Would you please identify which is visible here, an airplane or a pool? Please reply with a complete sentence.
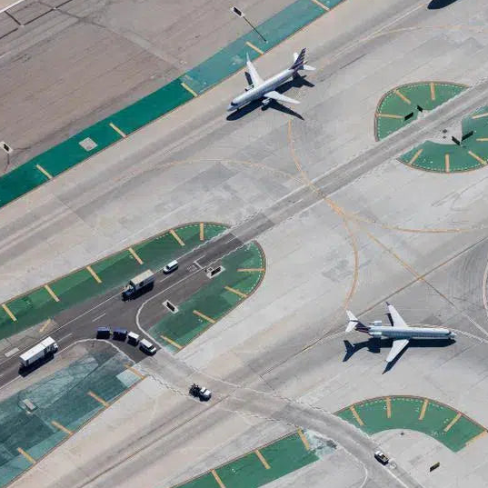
I can see an airplane in this picture.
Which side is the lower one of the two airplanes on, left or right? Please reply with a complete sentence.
You can find the lower one of the two airplanes on the right side of the picture.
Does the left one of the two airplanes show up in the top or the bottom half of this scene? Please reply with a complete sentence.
The left one of the two airplanes sits in the top half of the picture.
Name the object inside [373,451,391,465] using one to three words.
vehicle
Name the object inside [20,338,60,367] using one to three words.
truck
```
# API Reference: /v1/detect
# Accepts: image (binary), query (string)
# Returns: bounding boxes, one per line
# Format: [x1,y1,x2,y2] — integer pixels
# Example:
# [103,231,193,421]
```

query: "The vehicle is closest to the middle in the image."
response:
[162,258,180,273]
